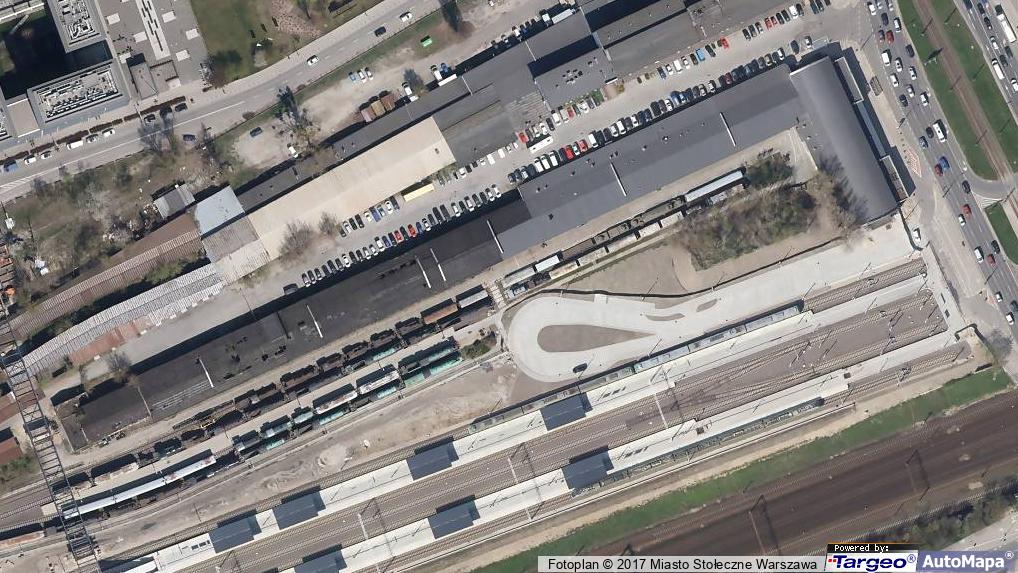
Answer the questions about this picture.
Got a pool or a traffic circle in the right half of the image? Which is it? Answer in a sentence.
Visible in the right half of the image is a traffic circle.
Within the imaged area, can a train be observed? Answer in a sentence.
Yes, the photo shows a train.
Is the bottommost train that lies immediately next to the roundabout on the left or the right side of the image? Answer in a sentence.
It is on the right.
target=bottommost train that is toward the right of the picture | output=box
[574,402,823,497]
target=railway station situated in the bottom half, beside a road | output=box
[96,246,966,573]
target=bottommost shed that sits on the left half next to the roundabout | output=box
[76,193,531,452]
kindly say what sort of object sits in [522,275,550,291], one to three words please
rail car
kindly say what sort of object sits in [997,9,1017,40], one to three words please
vehicle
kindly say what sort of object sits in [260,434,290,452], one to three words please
rail car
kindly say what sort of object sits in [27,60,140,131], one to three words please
building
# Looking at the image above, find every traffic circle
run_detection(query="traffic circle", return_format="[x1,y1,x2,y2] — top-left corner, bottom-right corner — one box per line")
[509,210,921,383]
